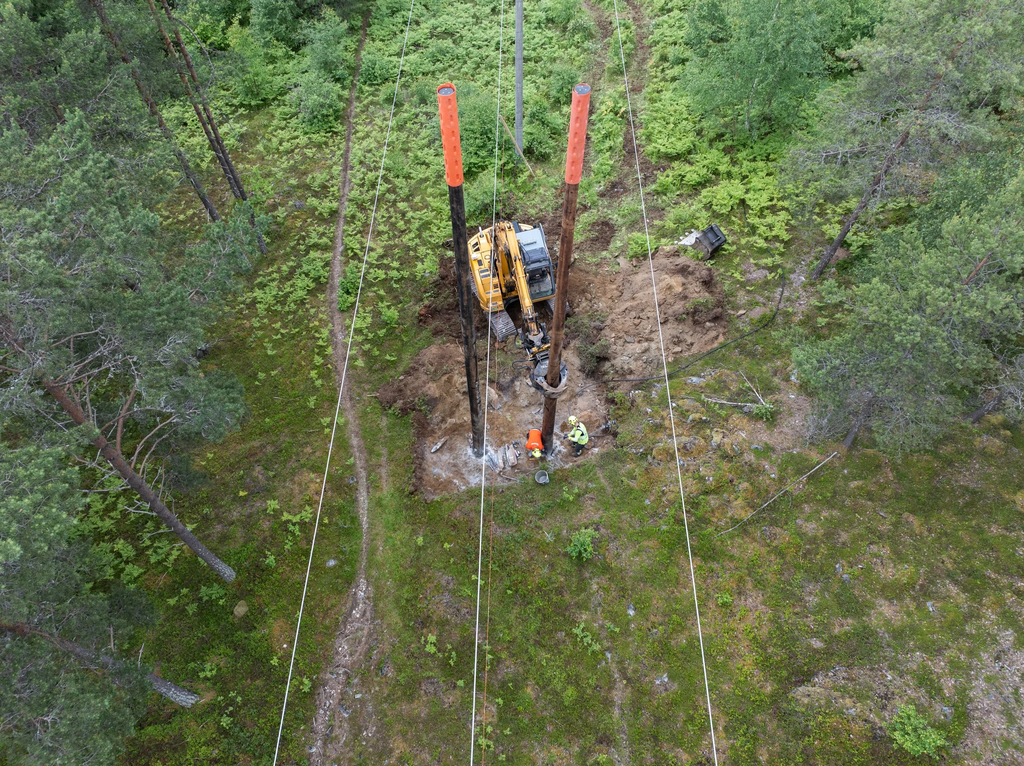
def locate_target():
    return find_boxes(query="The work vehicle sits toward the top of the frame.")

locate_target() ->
[469,211,572,397]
